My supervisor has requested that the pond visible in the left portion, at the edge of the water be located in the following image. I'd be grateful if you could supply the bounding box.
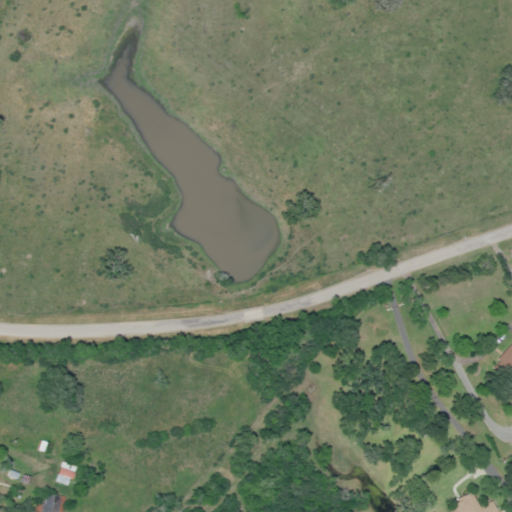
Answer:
[101,20,278,281]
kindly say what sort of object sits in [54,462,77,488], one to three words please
barn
